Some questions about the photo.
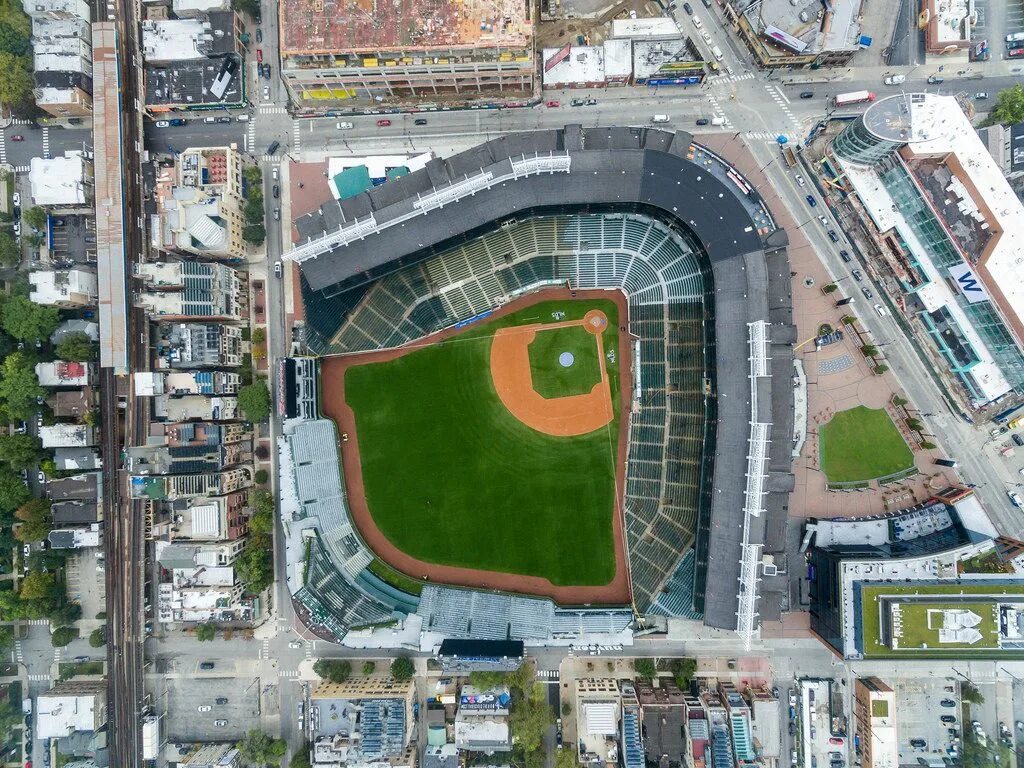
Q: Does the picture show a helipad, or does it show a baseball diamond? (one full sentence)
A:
There is a baseball diamond in the scene.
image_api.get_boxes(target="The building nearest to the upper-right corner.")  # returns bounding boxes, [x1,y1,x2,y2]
[919,0,980,57]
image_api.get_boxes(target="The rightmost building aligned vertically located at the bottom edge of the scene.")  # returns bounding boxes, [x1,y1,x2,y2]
[853,677,898,768]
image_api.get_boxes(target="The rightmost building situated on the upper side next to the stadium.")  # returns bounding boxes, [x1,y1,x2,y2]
[818,90,1024,400]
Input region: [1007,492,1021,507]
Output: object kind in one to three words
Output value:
vehicle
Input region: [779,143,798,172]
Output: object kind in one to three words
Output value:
vehicle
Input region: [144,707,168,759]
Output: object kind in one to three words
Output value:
shed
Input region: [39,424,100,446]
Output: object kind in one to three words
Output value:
house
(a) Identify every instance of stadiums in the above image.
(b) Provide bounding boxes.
[277,125,807,672]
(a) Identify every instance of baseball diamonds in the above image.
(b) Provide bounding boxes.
[320,282,637,603]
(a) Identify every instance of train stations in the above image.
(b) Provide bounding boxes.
[92,22,129,378]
